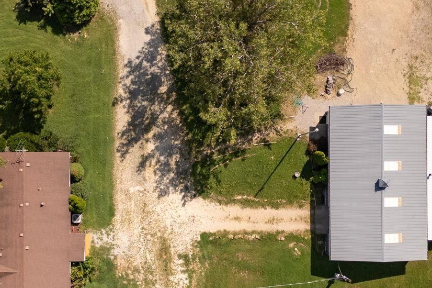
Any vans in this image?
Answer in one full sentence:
No, the frame has no van in it.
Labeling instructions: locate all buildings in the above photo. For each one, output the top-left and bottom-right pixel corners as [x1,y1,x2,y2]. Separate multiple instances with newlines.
[325,102,429,262]
[0,152,87,288]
